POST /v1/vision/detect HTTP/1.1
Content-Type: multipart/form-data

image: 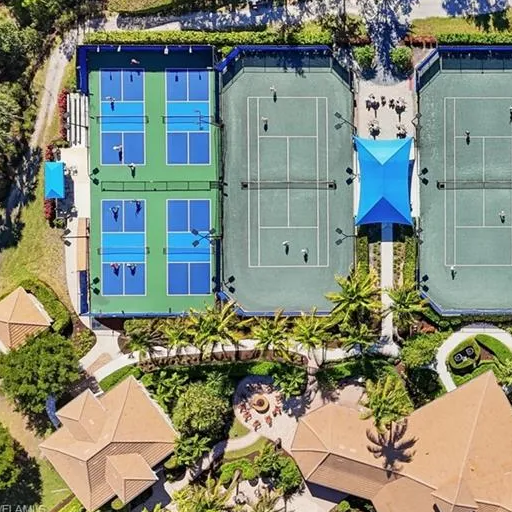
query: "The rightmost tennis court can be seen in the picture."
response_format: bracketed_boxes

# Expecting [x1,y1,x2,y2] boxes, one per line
[418,51,512,311]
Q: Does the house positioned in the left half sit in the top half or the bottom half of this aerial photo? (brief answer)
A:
bottom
